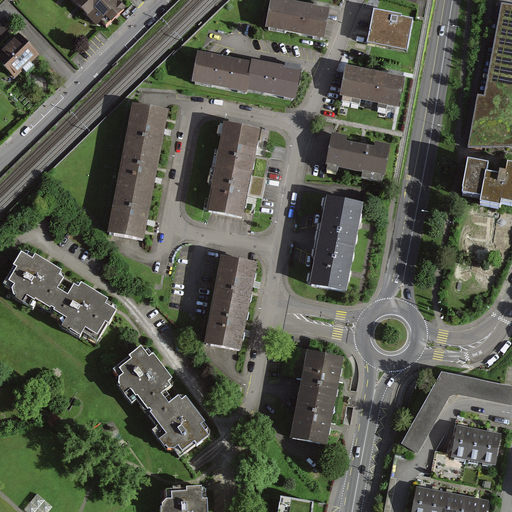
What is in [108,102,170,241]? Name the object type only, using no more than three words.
building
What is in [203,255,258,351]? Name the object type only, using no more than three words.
building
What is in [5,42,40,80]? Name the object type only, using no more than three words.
house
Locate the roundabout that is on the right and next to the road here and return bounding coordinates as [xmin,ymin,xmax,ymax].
[354,298,428,372]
